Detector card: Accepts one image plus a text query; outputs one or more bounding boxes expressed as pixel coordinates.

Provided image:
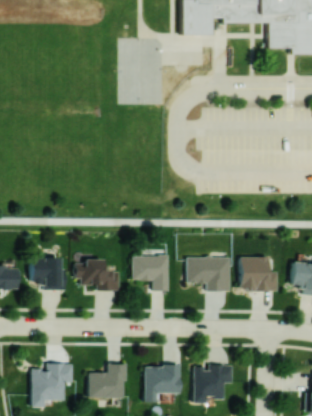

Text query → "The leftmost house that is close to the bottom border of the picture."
[30,364,74,408]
